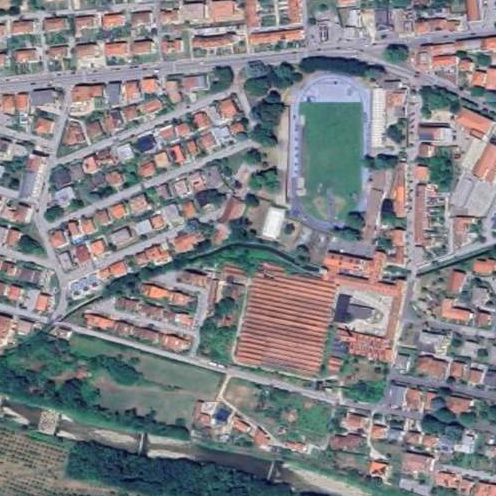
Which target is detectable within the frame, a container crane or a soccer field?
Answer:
soccer field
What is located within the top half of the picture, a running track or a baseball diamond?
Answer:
running track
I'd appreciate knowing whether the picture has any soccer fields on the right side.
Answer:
Yes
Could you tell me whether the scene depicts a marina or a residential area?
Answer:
residential area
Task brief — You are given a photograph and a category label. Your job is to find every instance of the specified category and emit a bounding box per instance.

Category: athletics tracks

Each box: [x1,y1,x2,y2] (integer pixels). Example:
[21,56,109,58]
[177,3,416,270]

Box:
[286,70,371,231]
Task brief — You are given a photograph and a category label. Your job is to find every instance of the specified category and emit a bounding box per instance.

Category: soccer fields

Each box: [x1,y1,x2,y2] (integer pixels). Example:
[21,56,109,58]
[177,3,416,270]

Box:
[298,102,360,221]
